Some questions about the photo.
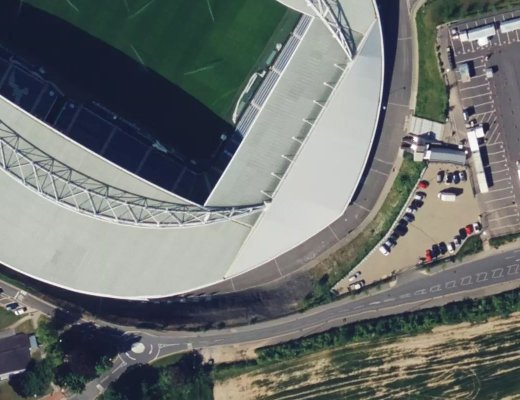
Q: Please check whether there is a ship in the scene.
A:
No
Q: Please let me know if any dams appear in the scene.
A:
No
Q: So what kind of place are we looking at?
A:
sports ground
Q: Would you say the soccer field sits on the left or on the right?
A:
left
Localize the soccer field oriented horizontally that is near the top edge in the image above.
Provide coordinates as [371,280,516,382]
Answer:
[0,0,303,126]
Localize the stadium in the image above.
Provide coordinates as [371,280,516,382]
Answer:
[0,0,384,299]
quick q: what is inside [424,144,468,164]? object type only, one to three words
building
